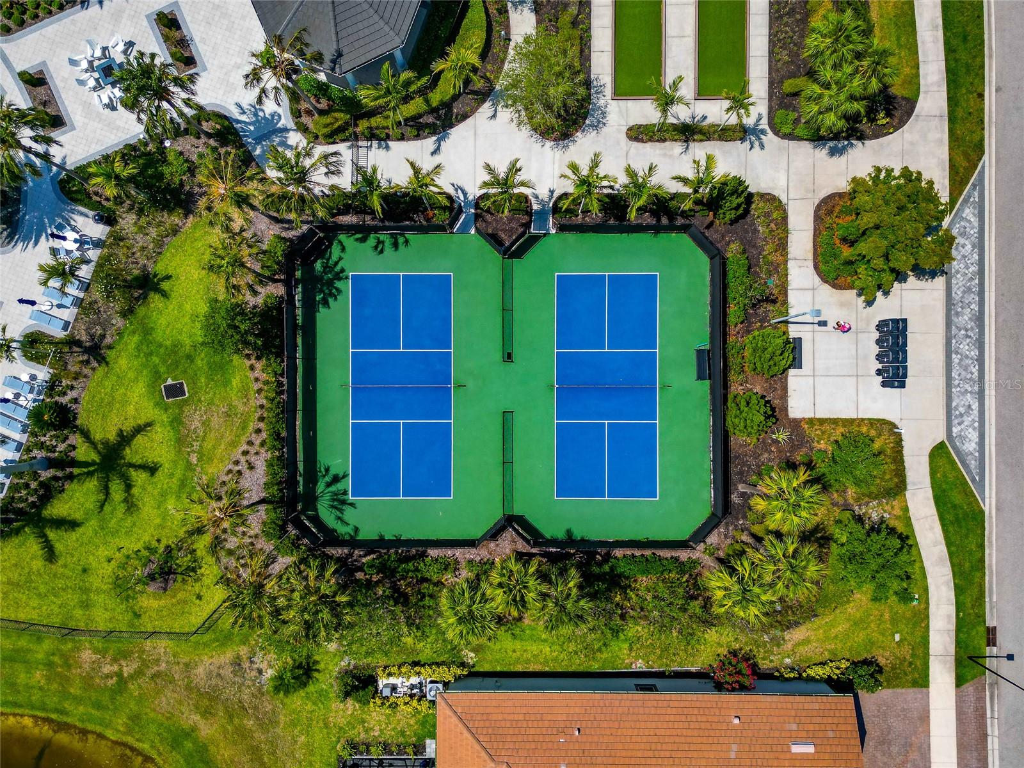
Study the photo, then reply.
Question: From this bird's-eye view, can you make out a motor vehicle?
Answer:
No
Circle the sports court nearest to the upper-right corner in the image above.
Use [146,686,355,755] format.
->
[694,0,749,100]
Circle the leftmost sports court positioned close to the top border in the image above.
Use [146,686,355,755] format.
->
[612,0,665,100]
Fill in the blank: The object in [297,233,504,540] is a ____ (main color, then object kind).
green sports court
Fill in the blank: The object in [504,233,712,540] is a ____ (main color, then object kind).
green sports court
